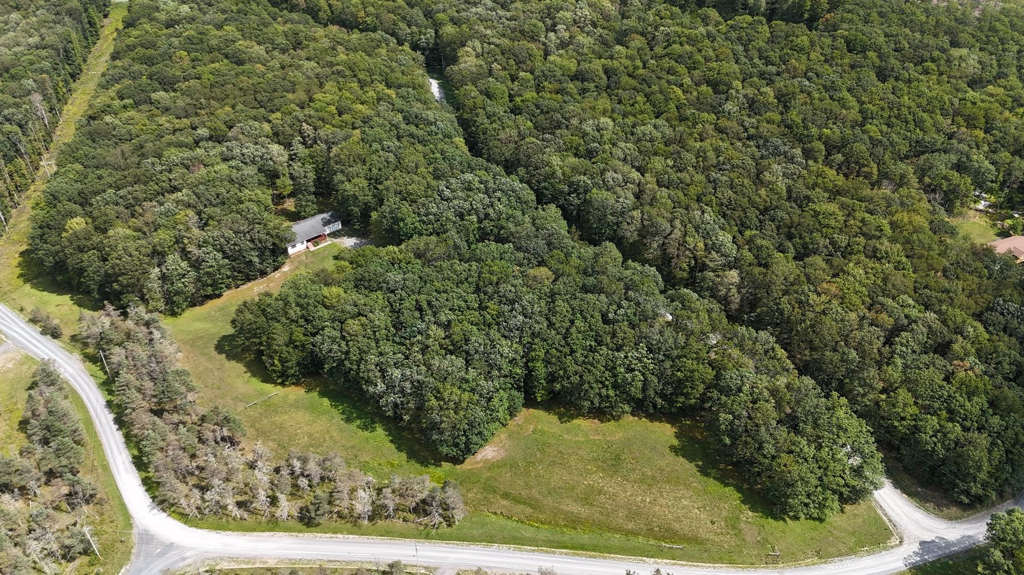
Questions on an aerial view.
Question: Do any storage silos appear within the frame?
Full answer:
No, I can see no storage silo in this picture.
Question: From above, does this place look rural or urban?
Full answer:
It looks rural.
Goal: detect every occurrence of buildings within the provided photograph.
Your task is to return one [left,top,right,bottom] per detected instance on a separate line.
[283,212,343,256]
[978,233,1024,266]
